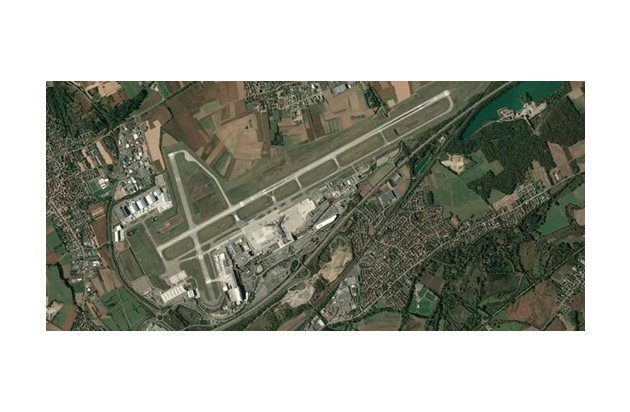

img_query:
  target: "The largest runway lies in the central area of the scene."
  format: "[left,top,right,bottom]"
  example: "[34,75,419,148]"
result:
[156,89,452,252]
